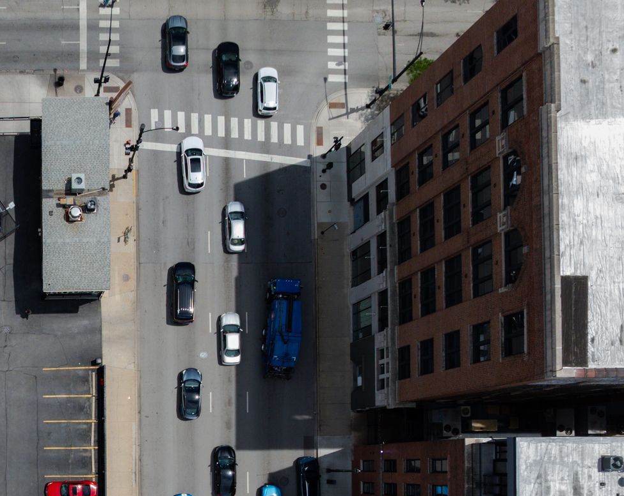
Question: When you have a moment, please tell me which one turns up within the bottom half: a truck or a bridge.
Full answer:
There is a truck within the bottom half.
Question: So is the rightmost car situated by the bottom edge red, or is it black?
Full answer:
In this view, the rightmost car situated by the bottom edge is black.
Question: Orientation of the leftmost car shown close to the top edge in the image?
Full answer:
In this picture, the leftmost car shown close to the top edge lies up and down.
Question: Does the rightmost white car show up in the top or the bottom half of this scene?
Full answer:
You can find the rightmost white car in the top half.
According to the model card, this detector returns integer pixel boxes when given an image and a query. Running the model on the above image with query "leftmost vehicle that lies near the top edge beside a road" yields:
[163,17,190,72]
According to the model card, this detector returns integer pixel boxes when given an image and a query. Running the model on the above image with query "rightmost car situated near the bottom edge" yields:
[294,456,323,496]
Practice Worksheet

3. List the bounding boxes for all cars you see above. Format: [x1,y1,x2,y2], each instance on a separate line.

[44,480,97,496]
[170,265,198,322]
[216,313,242,365]
[258,484,281,496]
[253,68,280,119]
[180,138,206,193]
[222,204,247,254]
[211,444,238,496]
[178,369,203,421]
[163,17,190,72]
[294,456,323,496]
[214,43,241,98]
